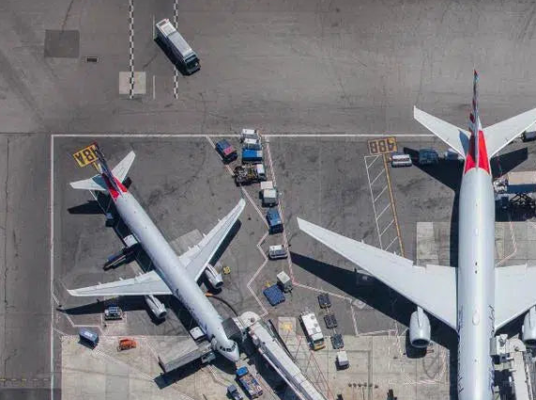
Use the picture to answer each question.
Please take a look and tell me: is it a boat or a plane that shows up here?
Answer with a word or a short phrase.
plane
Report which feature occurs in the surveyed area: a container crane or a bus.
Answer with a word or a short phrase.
bus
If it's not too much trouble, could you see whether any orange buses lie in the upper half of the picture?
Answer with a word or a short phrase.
No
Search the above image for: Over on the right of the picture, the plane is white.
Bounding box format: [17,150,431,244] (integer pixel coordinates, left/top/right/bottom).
[296,74,536,400]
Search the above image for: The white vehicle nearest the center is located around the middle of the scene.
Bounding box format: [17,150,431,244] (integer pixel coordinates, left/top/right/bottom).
[262,176,276,205]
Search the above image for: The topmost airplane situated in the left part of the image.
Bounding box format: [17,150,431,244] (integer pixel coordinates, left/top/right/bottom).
[63,147,244,360]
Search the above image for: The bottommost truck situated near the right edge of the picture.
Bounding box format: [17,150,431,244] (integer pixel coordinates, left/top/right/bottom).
[493,175,536,209]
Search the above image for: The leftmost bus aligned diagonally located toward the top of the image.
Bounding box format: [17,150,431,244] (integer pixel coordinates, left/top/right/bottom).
[155,18,199,78]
